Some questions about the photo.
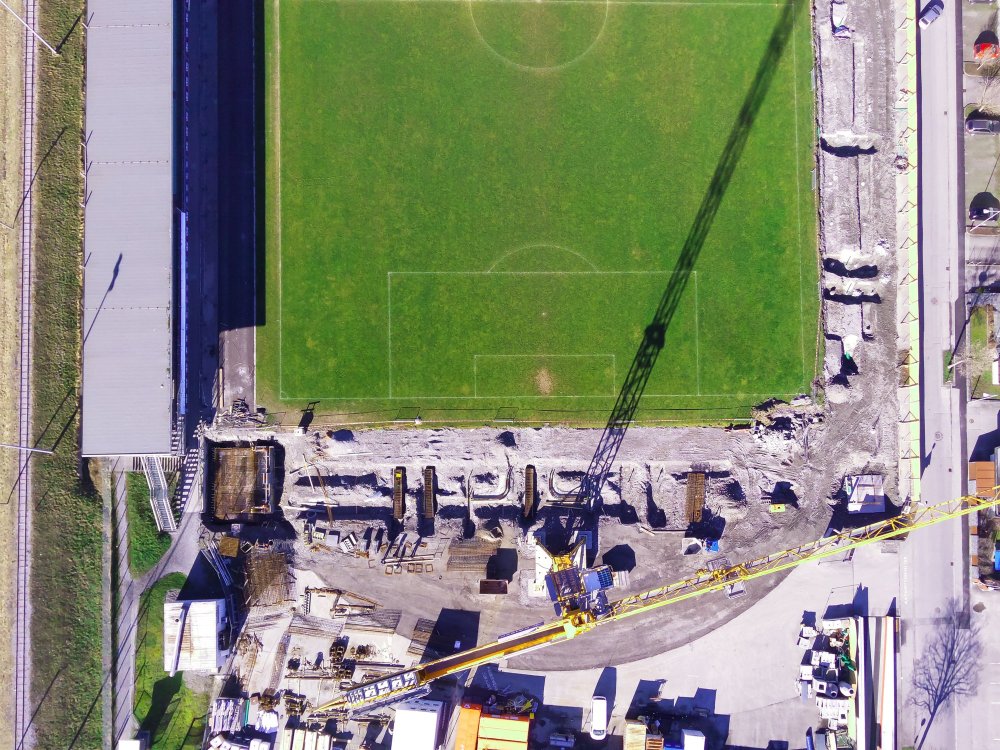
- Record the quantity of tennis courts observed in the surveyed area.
none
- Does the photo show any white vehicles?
Yes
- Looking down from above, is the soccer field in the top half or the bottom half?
top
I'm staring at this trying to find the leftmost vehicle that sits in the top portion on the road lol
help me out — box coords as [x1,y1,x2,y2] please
[917,0,944,29]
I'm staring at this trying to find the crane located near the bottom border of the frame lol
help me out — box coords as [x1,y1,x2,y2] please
[299,480,1000,724]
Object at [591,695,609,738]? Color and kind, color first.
white vehicle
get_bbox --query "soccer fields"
[255,0,823,429]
